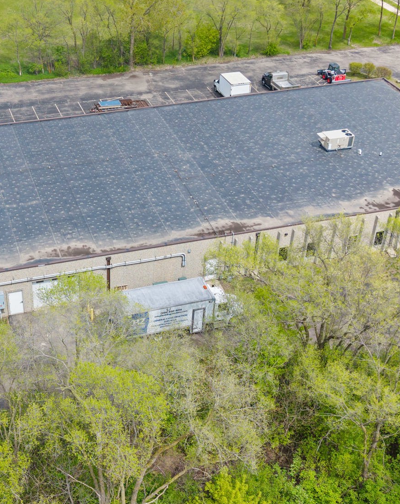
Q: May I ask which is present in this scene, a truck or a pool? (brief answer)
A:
truck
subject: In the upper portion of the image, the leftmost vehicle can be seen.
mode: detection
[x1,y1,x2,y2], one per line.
[209,68,253,97]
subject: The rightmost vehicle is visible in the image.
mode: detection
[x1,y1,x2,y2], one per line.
[315,62,345,84]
